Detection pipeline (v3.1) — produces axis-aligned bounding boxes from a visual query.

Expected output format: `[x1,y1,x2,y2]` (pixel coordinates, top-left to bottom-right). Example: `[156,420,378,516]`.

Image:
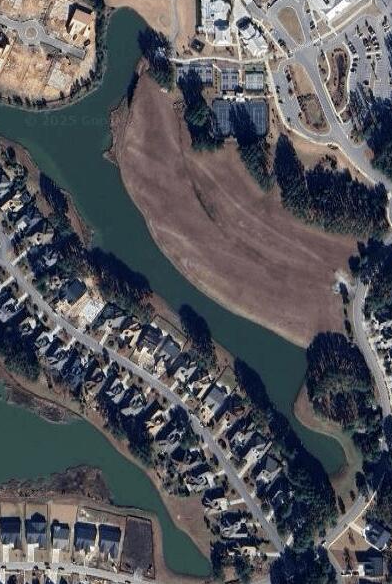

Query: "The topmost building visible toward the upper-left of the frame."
[67,5,97,31]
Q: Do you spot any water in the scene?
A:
Yes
